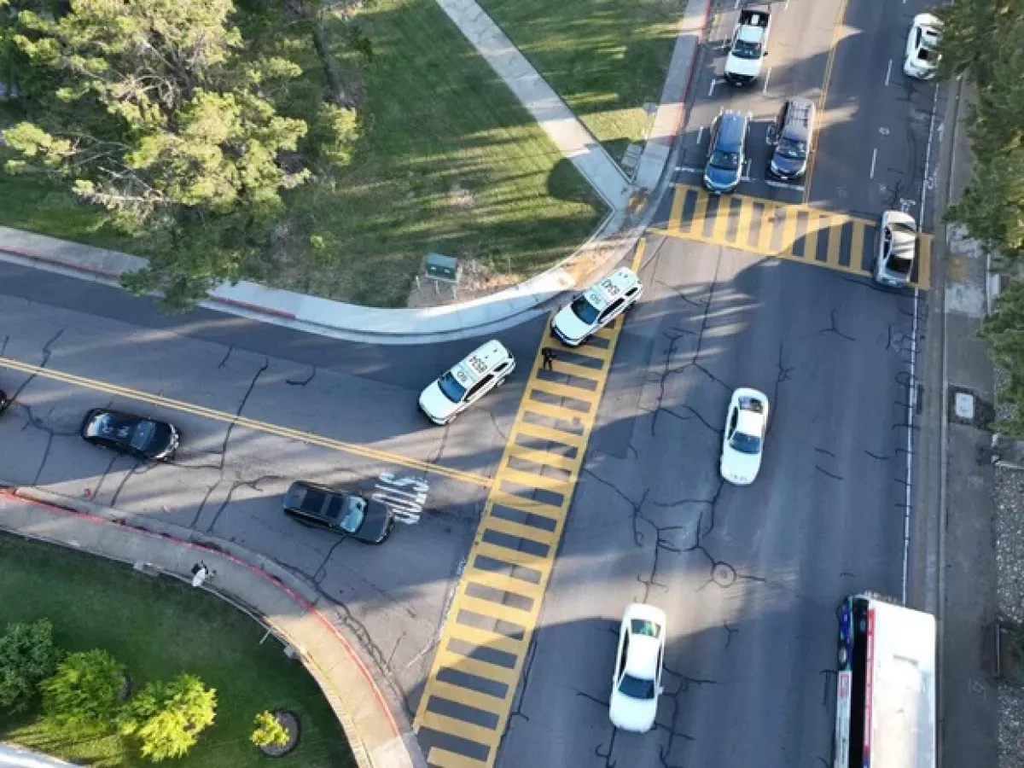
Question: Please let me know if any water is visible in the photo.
No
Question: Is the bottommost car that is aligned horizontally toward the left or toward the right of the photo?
left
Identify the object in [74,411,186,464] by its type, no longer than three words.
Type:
car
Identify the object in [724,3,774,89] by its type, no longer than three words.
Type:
truck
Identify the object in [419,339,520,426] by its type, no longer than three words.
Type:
car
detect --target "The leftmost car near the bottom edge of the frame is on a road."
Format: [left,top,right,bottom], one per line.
[610,604,666,733]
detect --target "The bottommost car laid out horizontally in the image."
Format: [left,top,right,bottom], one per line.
[279,480,396,549]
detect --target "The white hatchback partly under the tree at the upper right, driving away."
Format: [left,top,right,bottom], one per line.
[902,19,949,76]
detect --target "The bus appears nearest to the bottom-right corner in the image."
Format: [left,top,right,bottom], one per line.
[837,593,935,768]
